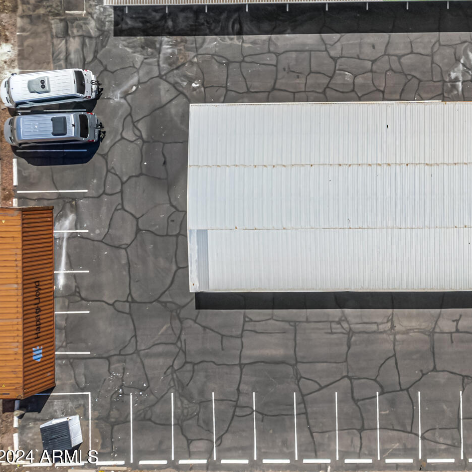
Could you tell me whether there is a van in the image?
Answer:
Yes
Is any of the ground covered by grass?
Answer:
No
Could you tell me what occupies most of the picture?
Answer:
paved ground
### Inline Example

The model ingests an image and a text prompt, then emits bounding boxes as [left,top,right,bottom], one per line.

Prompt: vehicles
[1,70,103,112]
[4,110,106,150]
